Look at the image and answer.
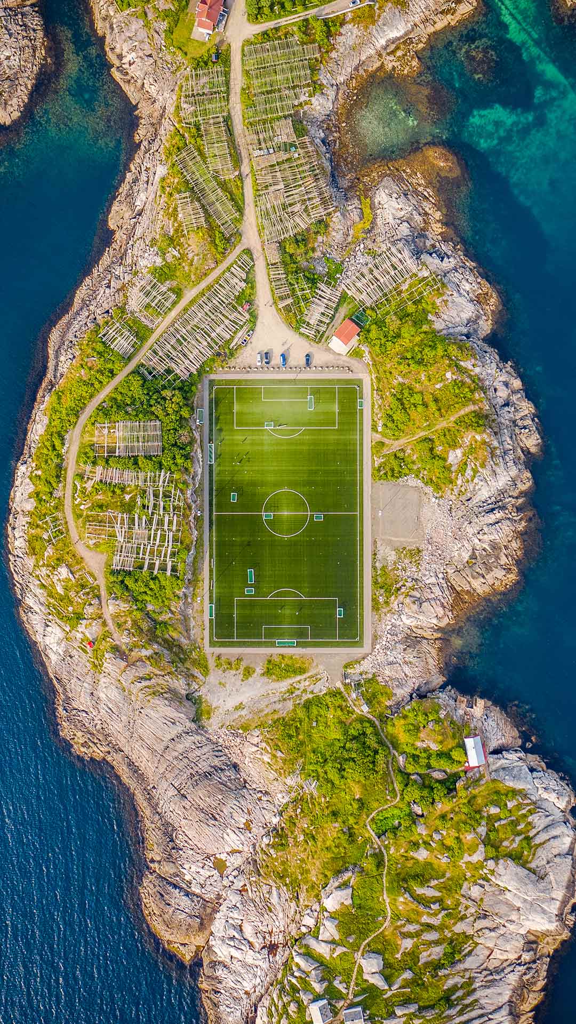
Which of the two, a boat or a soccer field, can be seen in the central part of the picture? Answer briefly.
soccer field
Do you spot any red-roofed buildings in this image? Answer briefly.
Yes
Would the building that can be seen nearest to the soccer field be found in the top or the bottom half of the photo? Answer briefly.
top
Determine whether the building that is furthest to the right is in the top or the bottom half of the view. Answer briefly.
bottom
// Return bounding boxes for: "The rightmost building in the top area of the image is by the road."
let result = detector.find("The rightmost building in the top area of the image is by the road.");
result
[328,318,361,355]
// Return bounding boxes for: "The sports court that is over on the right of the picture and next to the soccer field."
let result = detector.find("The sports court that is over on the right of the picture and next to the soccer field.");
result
[372,482,423,547]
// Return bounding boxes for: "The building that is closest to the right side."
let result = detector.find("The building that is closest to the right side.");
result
[465,735,487,771]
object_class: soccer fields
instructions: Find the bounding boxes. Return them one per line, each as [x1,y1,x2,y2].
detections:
[203,372,371,653]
